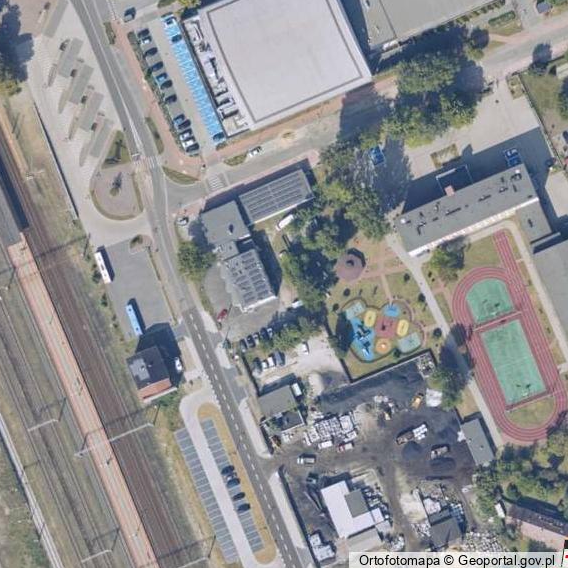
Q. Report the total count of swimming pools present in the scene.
0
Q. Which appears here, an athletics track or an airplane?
athletics track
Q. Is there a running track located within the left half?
No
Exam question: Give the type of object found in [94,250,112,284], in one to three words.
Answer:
vehicle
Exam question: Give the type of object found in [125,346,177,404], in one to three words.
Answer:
house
